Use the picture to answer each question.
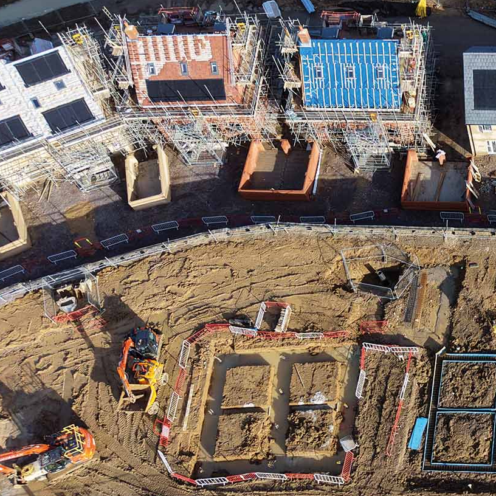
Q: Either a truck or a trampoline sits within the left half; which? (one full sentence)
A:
You can see a truck within the left half.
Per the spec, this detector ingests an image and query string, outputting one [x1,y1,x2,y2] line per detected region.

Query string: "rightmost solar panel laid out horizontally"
[152,78,221,99]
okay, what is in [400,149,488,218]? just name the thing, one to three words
building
